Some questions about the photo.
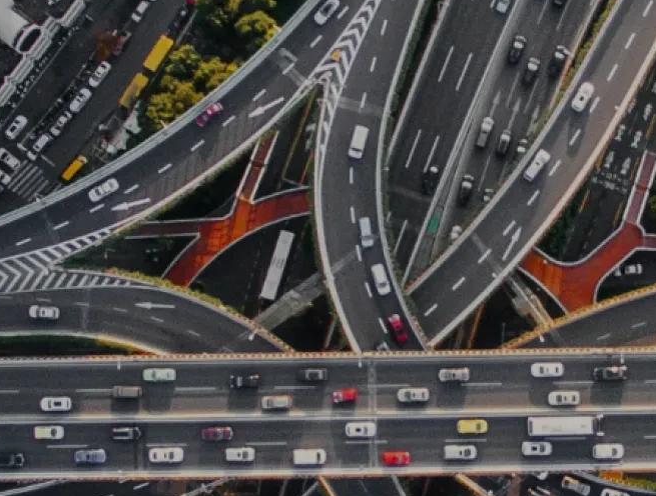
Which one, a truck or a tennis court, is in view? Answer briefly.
truck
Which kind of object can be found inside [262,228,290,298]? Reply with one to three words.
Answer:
bus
